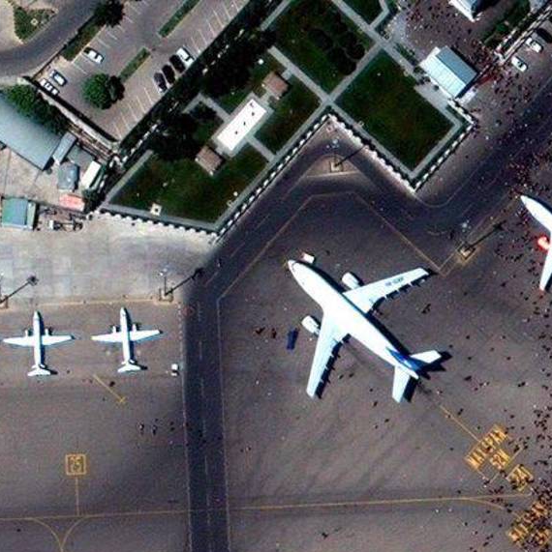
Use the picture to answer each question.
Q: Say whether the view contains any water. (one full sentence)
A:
No, water can't be seen anywhere here.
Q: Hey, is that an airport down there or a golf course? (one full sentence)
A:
This looks like an airport.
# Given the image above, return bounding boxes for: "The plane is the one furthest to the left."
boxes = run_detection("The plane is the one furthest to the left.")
[3,312,74,375]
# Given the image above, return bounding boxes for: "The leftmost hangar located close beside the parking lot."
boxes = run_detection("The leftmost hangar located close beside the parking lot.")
[0,93,61,175]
